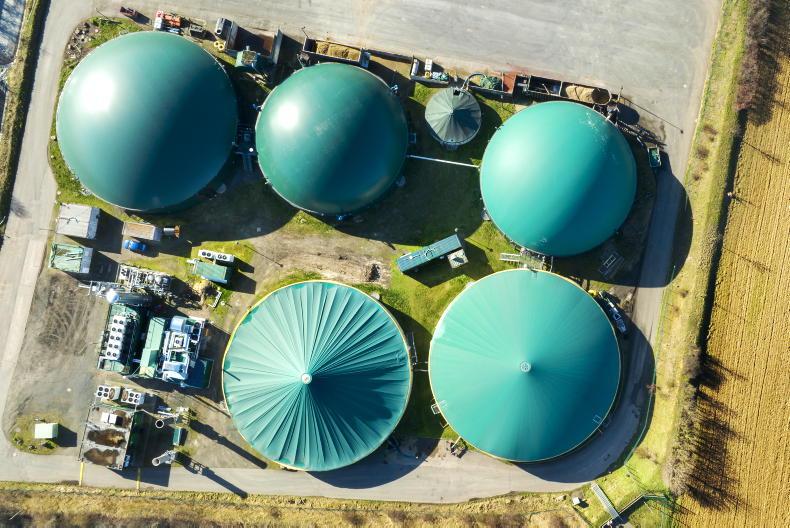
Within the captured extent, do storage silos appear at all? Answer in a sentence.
Yes, the frame does contain a storage silo.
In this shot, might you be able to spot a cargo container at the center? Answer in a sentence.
Yes, there is a cargo container at the center.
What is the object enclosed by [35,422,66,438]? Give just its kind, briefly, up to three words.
shed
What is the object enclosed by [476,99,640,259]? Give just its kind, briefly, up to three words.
storage tank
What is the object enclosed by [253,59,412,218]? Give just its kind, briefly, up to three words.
storage tank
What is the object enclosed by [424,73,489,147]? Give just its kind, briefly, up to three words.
silo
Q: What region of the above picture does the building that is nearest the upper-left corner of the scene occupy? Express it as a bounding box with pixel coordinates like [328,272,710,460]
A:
[56,205,101,239]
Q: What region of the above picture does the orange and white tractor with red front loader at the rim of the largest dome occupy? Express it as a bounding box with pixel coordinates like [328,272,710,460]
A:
[151,7,179,29]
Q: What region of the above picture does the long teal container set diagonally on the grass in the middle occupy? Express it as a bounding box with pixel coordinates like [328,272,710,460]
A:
[397,235,462,273]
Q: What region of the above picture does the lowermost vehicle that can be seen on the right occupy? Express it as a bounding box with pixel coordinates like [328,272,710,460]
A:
[603,294,630,333]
